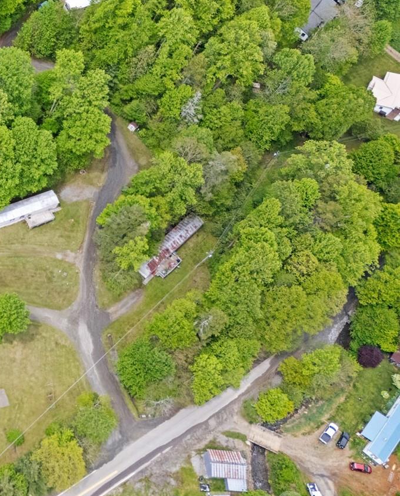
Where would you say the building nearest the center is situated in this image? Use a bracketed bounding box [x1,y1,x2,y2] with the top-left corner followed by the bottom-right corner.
[131,216,205,291]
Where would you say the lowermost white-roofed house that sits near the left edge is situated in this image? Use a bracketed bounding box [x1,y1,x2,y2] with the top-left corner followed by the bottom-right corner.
[0,191,59,232]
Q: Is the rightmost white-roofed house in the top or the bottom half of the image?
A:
top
